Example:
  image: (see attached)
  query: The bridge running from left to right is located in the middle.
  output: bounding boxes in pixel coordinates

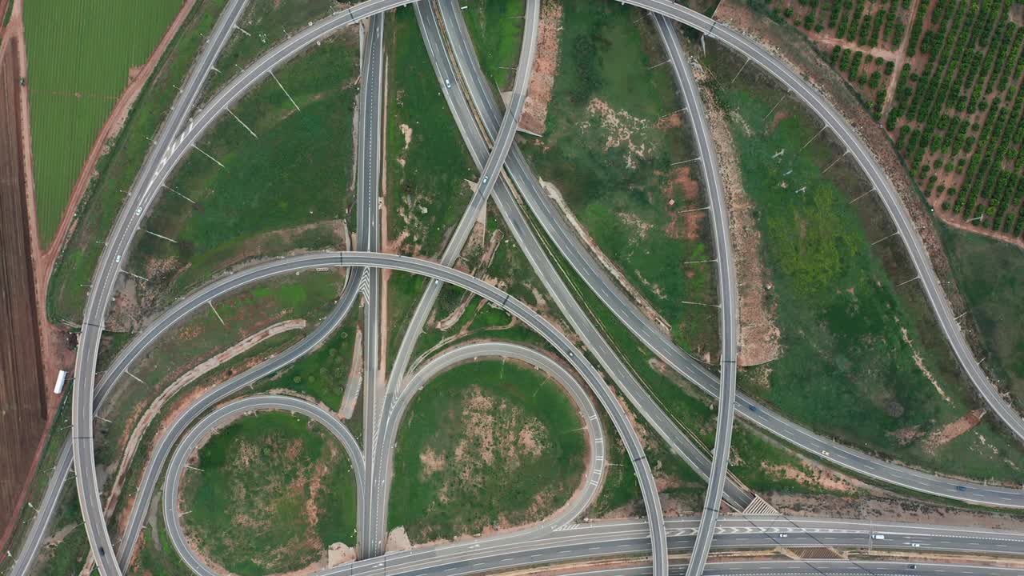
[339,251,514,309]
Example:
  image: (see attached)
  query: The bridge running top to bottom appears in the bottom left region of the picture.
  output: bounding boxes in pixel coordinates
[71,324,123,576]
